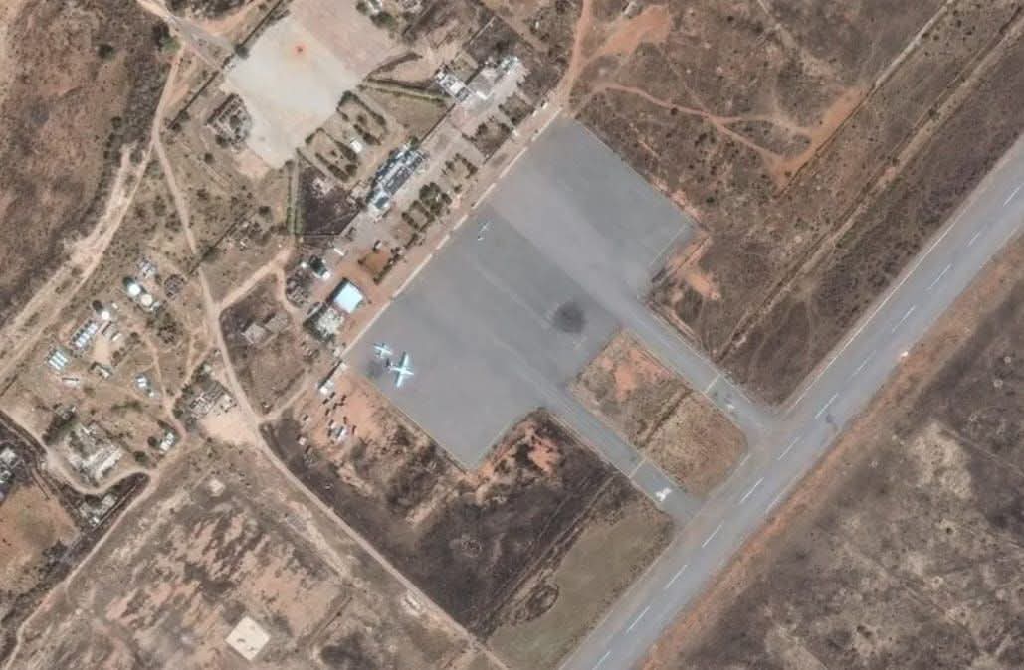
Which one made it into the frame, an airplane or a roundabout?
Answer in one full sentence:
The one in the frame is an airplane.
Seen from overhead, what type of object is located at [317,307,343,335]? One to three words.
building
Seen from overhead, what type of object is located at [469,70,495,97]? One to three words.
building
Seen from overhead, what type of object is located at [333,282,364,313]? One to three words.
hangar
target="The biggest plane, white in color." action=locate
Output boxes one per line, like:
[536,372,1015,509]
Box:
[388,354,414,387]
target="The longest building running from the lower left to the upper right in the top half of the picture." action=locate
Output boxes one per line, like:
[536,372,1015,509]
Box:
[369,145,427,213]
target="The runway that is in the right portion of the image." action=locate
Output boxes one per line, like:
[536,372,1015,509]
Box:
[559,144,1024,670]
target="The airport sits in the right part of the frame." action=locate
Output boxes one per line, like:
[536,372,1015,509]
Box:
[344,112,1024,670]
